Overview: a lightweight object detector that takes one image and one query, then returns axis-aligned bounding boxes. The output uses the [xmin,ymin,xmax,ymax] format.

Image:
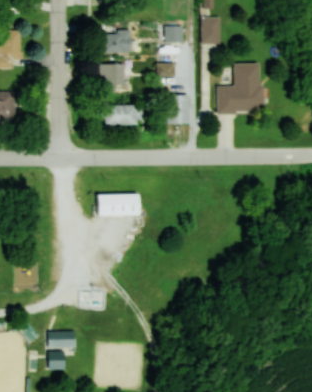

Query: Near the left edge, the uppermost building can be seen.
[0,30,24,70]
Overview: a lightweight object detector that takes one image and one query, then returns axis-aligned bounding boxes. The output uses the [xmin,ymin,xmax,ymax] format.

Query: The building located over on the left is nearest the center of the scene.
[98,193,142,217]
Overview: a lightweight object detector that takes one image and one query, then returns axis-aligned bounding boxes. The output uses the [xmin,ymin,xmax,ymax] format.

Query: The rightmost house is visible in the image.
[218,62,264,112]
